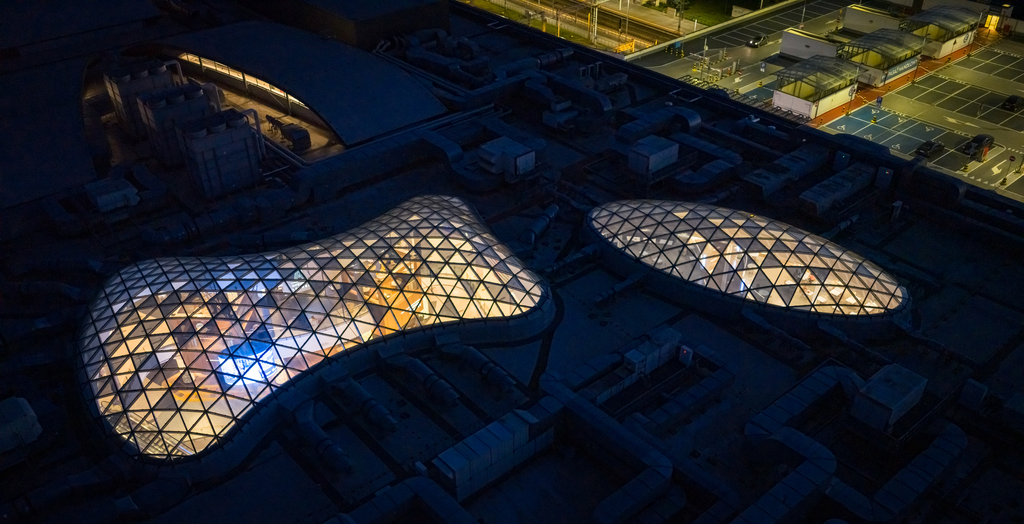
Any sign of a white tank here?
No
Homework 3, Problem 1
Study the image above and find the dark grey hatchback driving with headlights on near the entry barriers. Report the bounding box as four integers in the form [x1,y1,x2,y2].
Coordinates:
[746,30,771,46]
